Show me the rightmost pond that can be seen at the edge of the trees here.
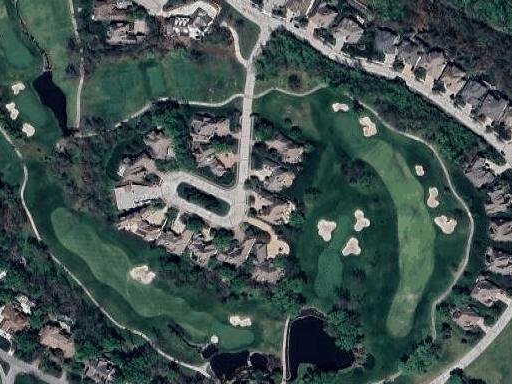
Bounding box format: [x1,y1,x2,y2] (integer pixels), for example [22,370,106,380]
[287,317,354,379]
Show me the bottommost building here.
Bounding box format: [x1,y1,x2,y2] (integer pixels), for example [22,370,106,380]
[81,361,118,384]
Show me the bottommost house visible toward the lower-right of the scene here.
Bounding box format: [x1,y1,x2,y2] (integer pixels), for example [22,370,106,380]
[450,306,485,330]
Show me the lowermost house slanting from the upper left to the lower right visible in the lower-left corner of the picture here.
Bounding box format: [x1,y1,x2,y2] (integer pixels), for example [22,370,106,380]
[33,320,77,359]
